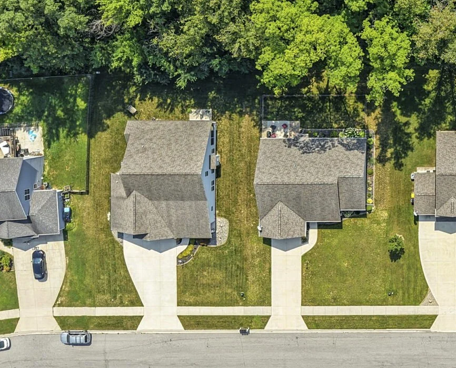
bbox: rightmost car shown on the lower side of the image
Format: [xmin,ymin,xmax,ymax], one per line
[62,331,93,347]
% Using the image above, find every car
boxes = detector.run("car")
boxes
[31,251,48,280]
[62,331,93,347]
[0,336,14,350]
